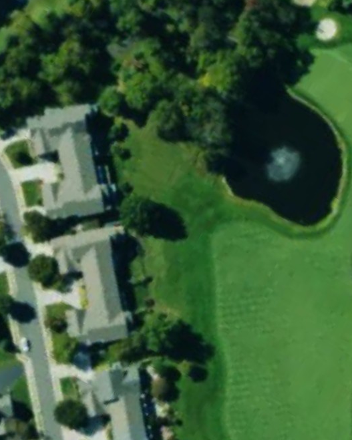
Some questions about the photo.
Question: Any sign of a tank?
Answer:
No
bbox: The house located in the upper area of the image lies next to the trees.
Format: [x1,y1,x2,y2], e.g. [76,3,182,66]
[28,103,113,221]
